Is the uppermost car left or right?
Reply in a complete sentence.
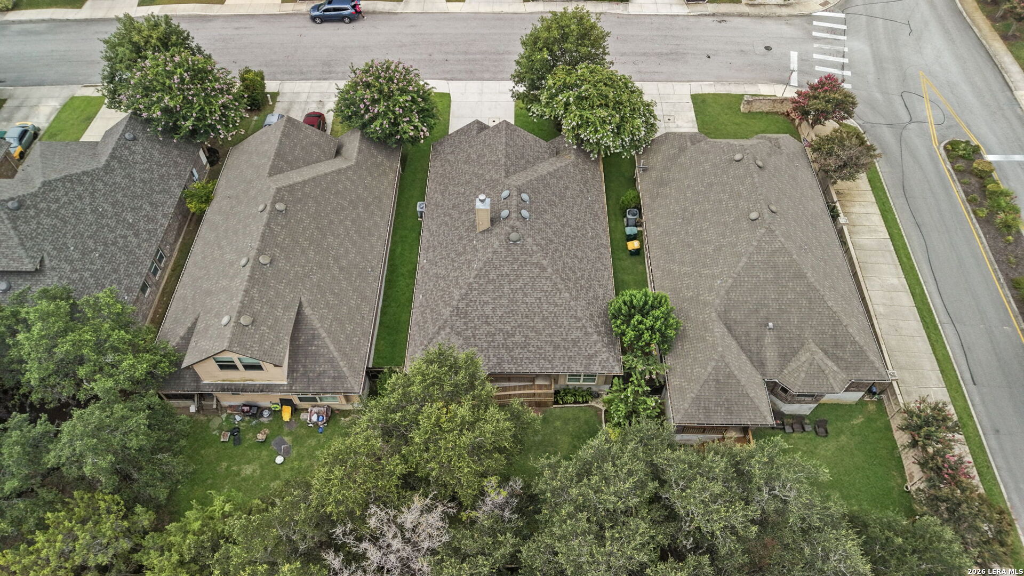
The uppermost car sits on the left side.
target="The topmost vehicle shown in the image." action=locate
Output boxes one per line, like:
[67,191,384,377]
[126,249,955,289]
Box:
[306,0,360,23]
